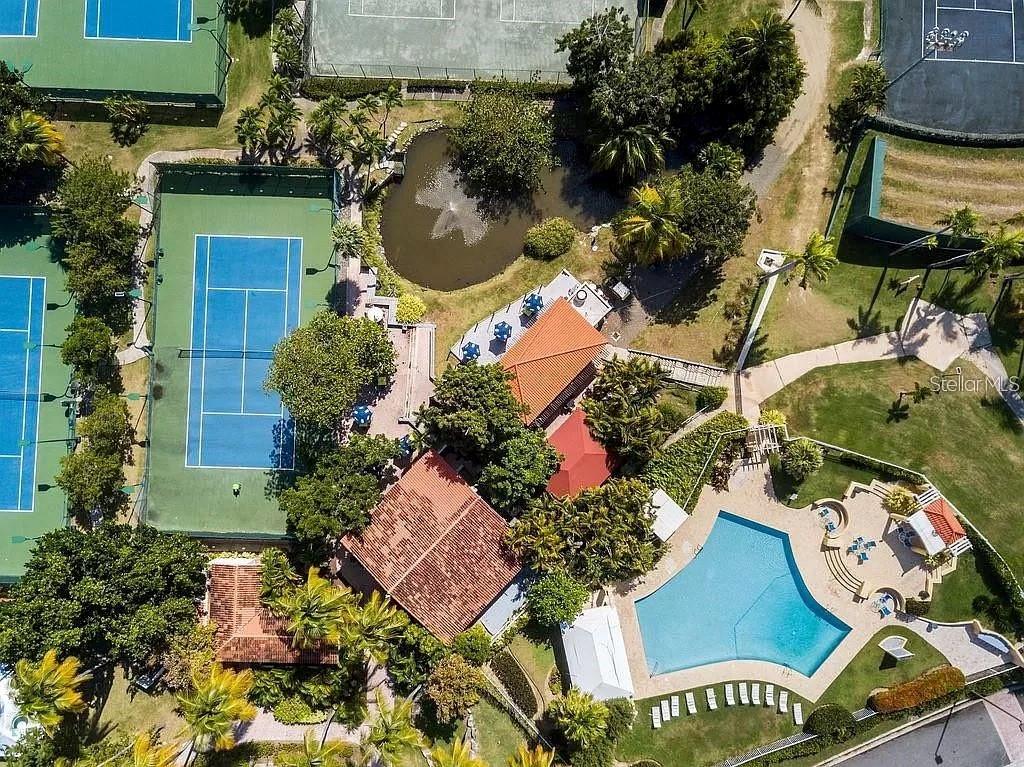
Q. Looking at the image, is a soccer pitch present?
No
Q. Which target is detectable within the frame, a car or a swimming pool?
swimming pool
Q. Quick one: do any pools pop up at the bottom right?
Yes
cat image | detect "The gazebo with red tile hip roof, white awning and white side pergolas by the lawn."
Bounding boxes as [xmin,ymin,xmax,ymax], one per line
[898,487,974,558]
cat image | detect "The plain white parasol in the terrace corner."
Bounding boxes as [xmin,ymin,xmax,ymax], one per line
[368,306,385,322]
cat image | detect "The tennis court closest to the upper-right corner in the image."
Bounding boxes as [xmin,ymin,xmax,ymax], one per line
[882,0,1024,137]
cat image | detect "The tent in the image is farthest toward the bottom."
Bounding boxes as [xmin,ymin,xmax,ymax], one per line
[562,601,634,702]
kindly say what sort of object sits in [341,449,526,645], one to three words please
house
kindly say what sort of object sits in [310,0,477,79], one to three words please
tennis court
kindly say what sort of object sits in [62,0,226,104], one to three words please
tennis court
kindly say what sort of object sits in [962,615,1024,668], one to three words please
fountain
